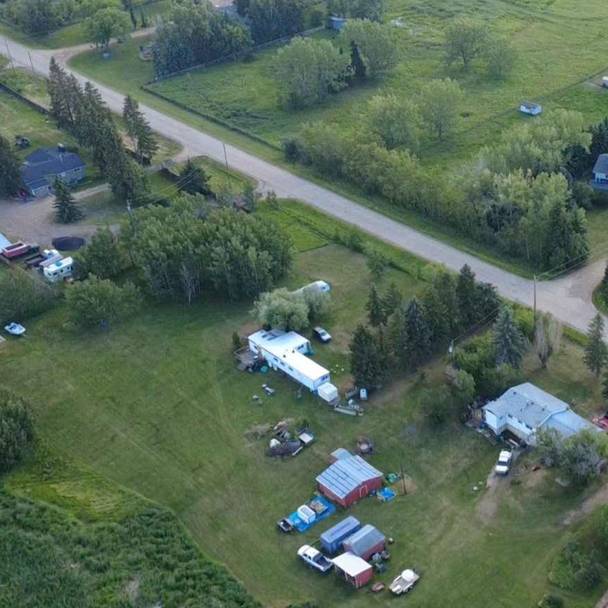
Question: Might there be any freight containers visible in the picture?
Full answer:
Yes, there is a freight container in the image.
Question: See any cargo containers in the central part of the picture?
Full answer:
No, looking in the central part of the picture, there is no cargo container.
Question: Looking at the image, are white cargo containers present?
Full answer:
No, I can't see a single white cargo container in this photo.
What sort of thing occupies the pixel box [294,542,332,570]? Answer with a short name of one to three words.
truck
